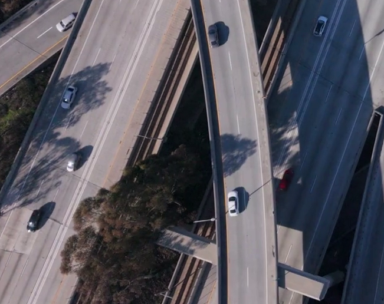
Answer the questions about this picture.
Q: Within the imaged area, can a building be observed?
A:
No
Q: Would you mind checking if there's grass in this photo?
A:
No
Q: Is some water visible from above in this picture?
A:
No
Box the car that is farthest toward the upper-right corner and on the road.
[313,14,326,38]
